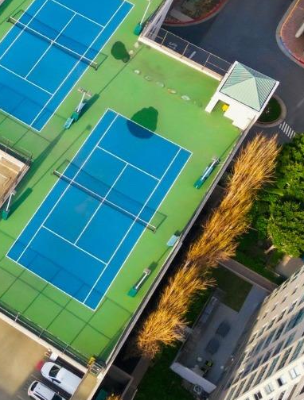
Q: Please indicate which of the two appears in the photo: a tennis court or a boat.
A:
tennis court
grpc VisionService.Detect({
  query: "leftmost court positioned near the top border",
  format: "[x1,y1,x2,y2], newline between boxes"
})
[0,0,134,132]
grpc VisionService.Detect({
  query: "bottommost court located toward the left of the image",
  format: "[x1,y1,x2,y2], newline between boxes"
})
[7,107,192,311]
